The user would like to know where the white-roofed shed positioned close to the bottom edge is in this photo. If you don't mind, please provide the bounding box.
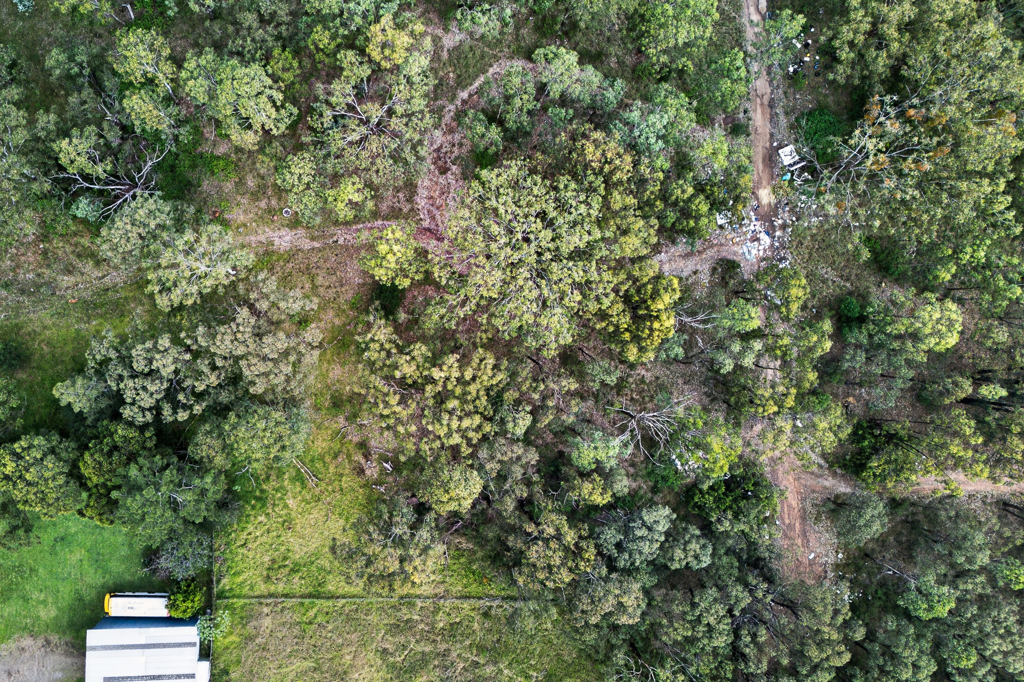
[84,609,215,682]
